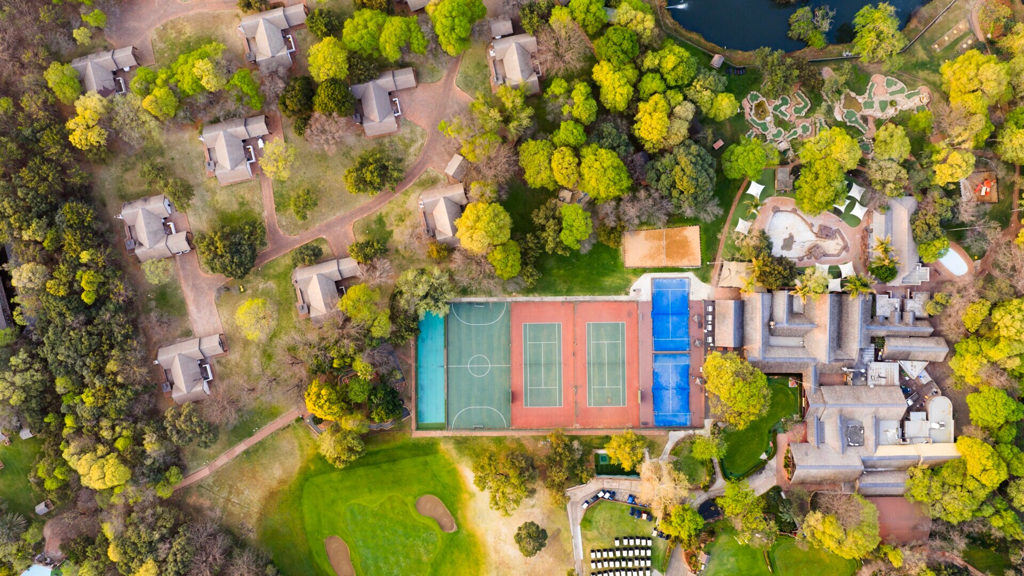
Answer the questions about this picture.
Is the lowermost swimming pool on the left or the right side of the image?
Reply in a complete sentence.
The lowermost swimming pool appears in the left half of the scene.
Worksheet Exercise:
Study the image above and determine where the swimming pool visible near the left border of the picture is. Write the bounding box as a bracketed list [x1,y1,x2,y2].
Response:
[16,555,57,576]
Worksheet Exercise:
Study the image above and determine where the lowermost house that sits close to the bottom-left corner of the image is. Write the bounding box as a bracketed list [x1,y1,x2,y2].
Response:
[36,490,69,516]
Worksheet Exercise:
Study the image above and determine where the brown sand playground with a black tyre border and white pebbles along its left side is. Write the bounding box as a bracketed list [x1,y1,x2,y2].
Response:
[959,170,1000,204]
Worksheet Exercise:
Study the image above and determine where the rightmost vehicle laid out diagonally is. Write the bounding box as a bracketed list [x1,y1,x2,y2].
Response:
[905,390,923,407]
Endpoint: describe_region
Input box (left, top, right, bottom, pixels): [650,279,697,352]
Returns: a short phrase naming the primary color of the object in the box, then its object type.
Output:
blue sports court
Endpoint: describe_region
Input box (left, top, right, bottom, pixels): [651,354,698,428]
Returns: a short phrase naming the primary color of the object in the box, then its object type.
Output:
blue sports court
